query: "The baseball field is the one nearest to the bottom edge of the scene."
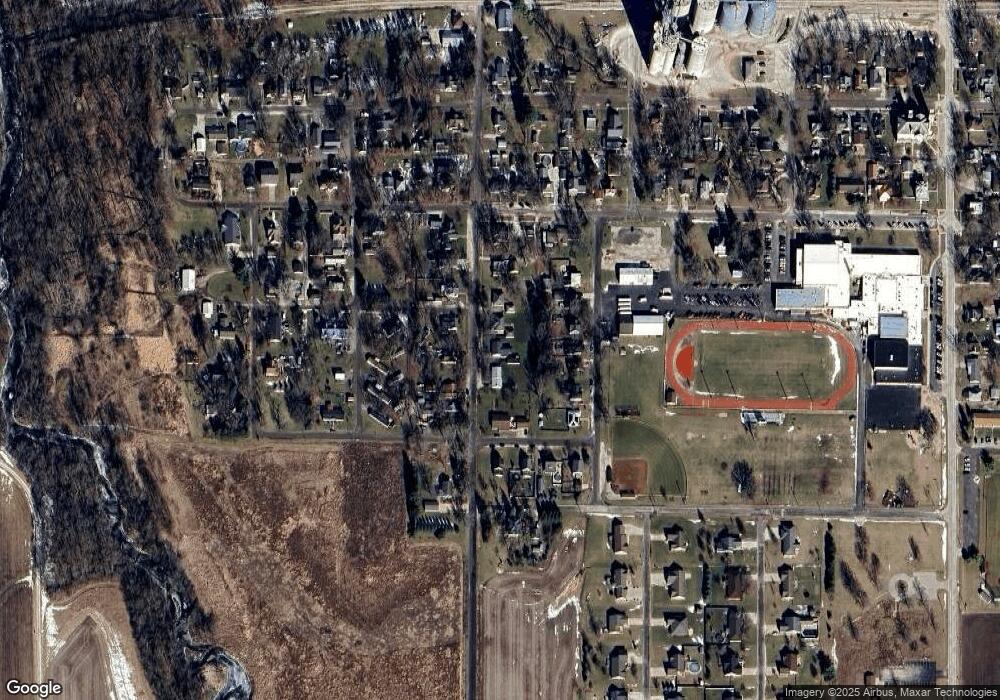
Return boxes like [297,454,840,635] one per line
[611,422,686,496]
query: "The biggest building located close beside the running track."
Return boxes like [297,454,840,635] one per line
[775,241,924,386]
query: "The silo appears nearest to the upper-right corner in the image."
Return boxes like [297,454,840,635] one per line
[749,0,780,35]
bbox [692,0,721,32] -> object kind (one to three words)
silo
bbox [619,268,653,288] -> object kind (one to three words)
building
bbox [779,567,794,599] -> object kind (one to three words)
house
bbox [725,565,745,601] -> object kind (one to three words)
house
